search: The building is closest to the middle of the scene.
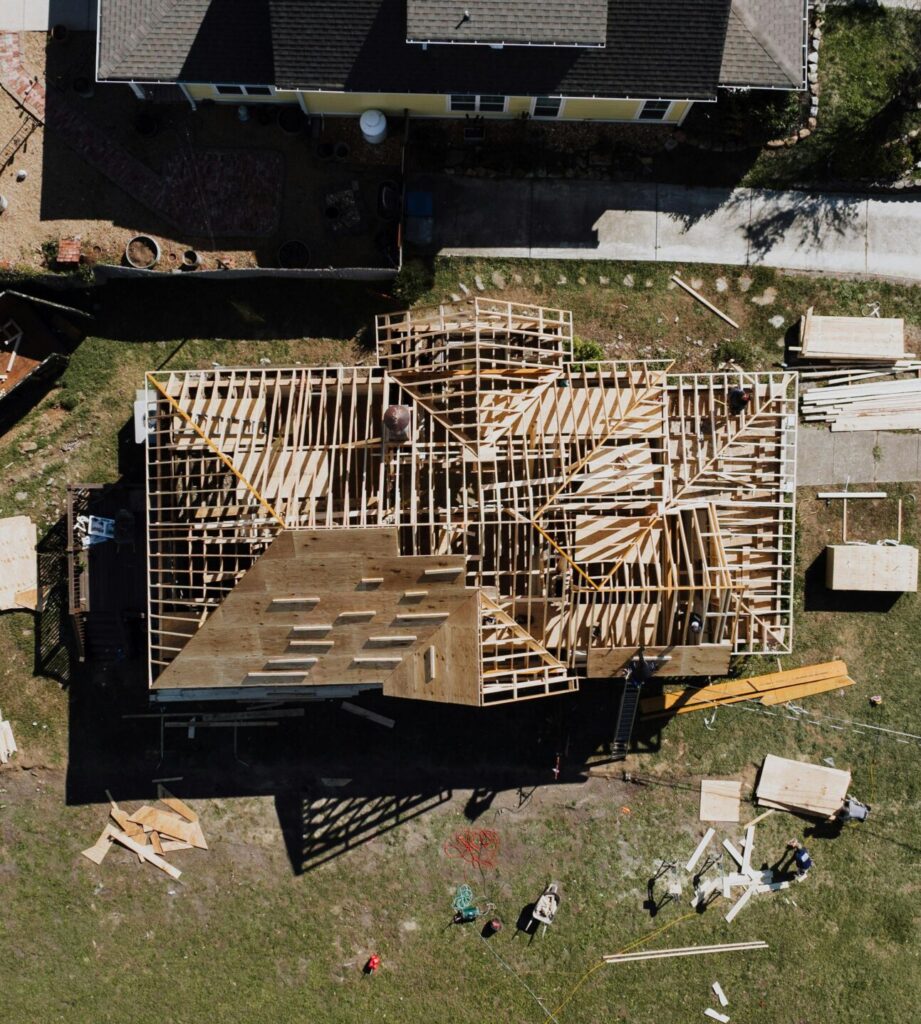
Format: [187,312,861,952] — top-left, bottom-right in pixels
[148,297,798,706]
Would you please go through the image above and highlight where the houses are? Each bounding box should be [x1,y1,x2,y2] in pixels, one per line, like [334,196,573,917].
[93,0,816,129]
[148,297,798,706]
